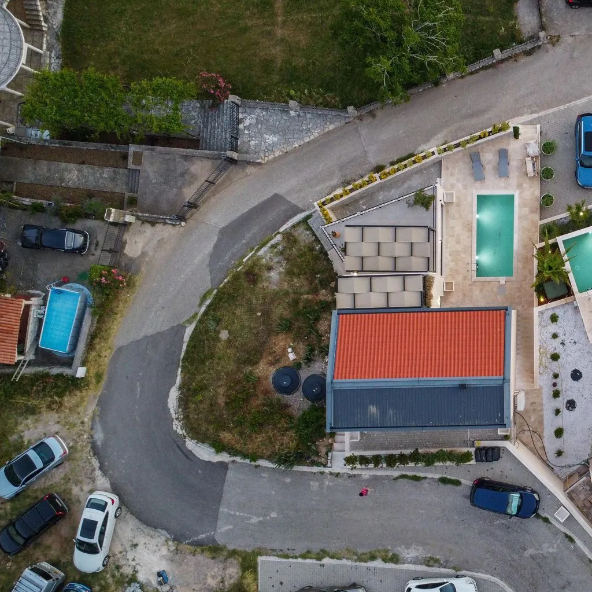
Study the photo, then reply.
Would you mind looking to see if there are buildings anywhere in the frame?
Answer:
Yes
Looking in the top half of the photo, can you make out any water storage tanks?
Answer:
No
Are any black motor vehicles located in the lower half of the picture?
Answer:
Yes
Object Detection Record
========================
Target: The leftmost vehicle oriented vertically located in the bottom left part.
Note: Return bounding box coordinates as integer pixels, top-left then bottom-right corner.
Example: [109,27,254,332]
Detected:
[74,490,125,571]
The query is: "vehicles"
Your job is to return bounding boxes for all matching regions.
[469,479,541,522]
[0,435,74,493]
[564,0,592,10]
[404,572,479,592]
[572,113,592,190]
[74,490,125,571]
[14,559,68,592]
[301,582,370,592]
[20,221,98,257]
[0,492,73,553]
